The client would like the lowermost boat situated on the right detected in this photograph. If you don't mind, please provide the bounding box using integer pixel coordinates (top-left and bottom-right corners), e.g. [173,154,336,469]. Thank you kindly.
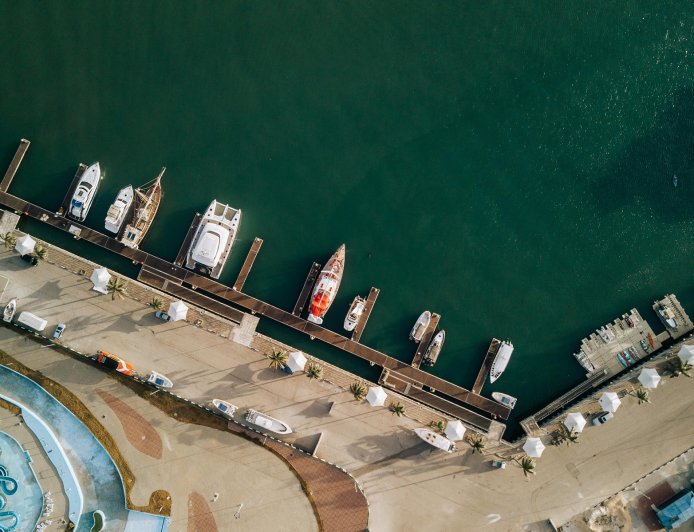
[410,425,455,453]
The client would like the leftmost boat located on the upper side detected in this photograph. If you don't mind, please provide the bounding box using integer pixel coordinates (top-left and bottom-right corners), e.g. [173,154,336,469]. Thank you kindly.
[69,162,101,224]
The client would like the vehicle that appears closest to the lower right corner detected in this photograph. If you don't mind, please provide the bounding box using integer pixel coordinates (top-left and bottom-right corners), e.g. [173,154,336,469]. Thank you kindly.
[592,411,613,426]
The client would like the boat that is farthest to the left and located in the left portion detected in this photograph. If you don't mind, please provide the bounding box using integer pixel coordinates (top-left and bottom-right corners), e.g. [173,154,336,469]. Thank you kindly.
[4,298,19,323]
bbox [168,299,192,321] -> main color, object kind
white tent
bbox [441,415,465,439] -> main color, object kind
white tent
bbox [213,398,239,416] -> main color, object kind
white boat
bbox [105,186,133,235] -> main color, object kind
white boat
